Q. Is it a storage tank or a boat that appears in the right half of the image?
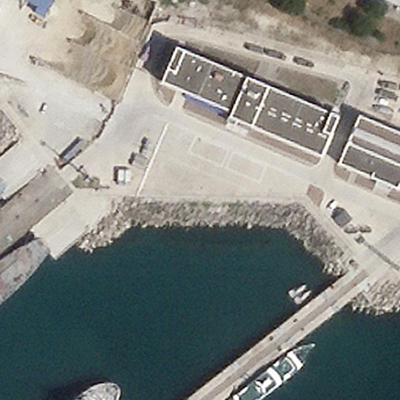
boat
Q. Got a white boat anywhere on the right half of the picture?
Yes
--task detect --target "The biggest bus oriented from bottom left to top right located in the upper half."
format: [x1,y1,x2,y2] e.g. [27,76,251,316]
[61,139,82,162]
